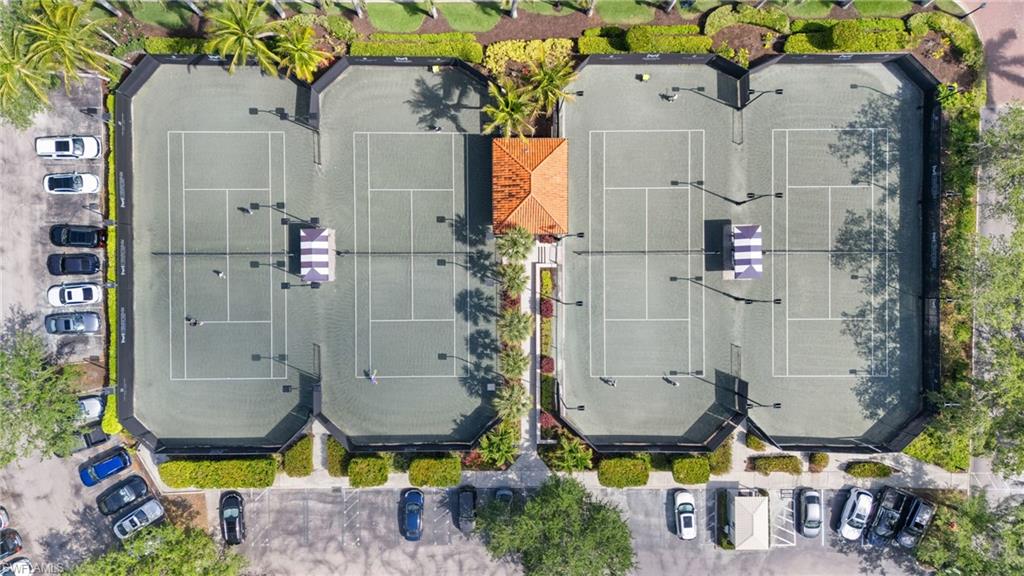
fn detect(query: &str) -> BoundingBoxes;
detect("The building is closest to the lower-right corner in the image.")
[729,492,769,550]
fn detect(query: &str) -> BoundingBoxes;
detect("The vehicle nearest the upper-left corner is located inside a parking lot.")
[35,134,102,160]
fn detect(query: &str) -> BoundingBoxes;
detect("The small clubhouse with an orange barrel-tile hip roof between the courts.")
[491,137,569,236]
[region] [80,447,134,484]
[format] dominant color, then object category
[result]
blue car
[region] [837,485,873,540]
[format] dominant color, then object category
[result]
white car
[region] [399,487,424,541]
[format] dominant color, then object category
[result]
blue car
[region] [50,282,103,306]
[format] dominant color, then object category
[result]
white car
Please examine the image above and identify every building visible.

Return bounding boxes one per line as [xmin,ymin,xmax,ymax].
[491,137,569,236]
[729,492,769,550]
